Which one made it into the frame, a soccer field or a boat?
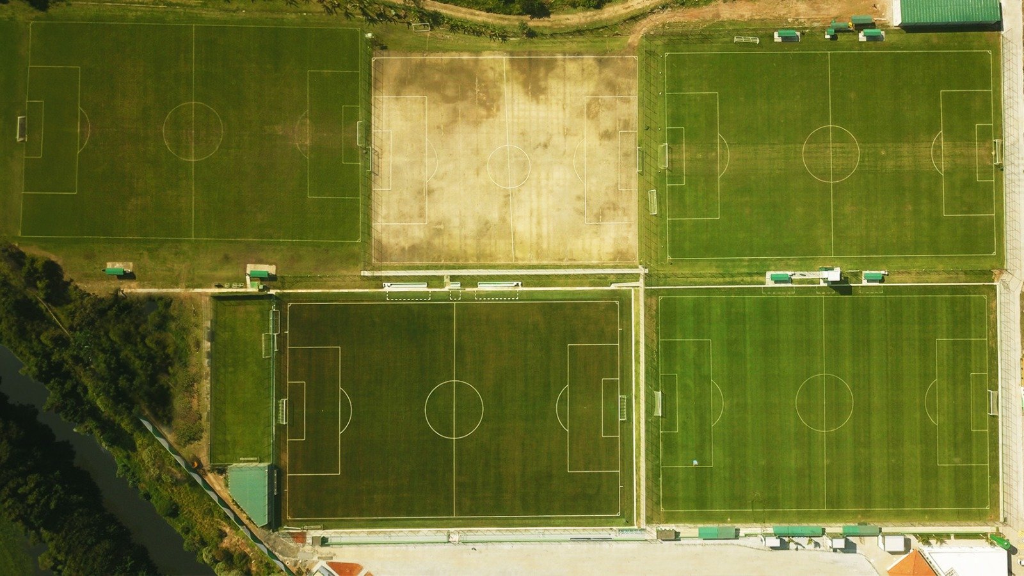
soccer field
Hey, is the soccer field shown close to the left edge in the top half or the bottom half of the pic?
top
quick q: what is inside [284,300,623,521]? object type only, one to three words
soccer field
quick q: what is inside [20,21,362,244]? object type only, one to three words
soccer field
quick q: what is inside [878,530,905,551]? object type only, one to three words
building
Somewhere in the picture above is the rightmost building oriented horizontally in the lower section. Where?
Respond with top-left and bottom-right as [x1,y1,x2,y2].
[913,545,1009,576]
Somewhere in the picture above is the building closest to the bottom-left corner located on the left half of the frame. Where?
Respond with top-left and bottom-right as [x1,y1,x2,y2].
[227,462,271,527]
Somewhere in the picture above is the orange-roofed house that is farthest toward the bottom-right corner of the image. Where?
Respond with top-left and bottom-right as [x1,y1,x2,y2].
[882,545,943,576]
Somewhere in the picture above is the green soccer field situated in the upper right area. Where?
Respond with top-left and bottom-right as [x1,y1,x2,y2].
[664,50,997,260]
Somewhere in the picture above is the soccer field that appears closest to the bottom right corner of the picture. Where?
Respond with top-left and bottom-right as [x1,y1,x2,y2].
[658,294,991,512]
